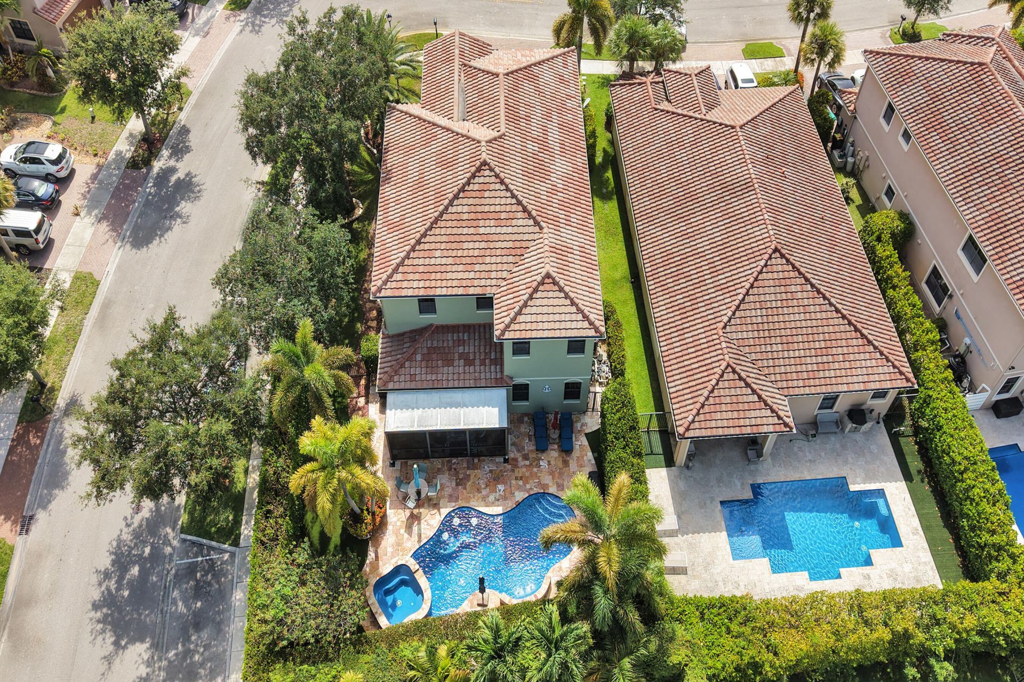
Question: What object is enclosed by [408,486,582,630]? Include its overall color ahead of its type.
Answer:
blue swimming pool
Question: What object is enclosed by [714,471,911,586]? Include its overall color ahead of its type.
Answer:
blue swimming pool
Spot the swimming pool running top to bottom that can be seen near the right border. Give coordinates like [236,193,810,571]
[983,437,1024,537]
